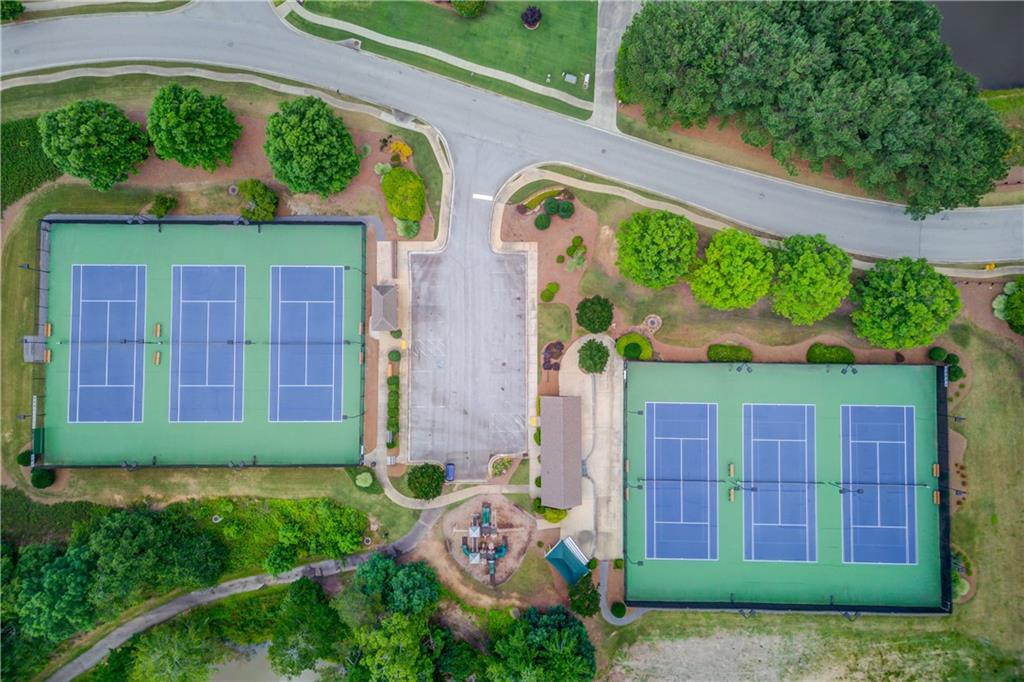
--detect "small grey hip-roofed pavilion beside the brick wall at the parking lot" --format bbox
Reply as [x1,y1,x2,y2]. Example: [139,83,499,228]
[371,285,399,330]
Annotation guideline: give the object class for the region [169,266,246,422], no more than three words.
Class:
tennis court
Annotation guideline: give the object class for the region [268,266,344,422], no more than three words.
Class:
tennis court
